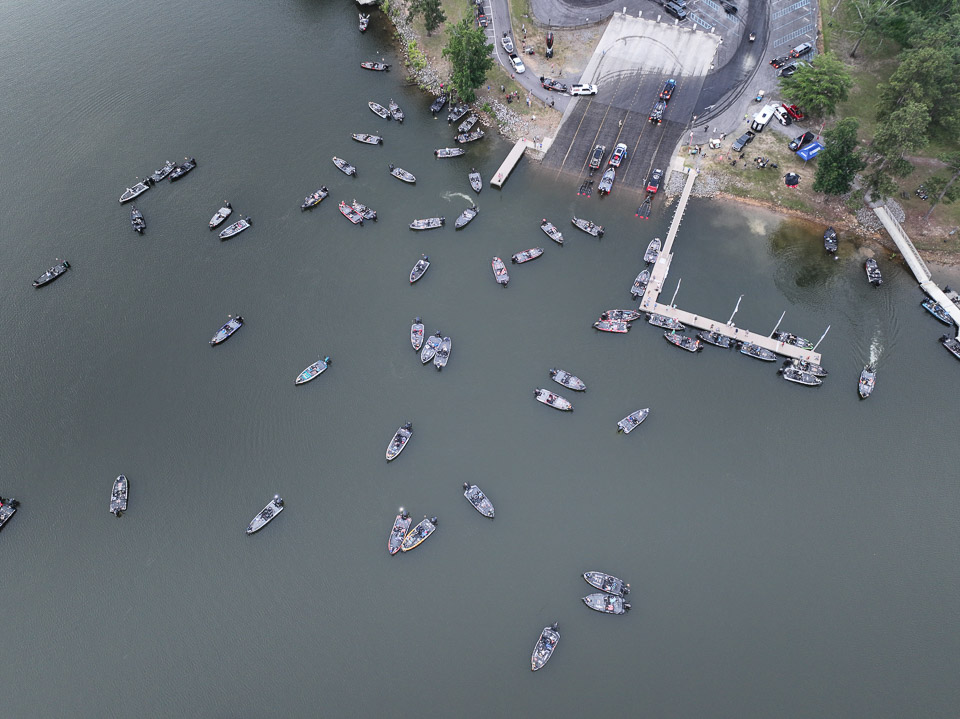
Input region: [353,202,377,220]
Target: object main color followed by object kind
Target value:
gray boat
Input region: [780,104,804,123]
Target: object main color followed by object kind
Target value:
red vehicle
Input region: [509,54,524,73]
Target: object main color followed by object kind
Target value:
white vehicle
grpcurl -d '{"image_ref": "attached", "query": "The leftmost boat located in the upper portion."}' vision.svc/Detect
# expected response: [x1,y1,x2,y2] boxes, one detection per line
[33,262,68,285]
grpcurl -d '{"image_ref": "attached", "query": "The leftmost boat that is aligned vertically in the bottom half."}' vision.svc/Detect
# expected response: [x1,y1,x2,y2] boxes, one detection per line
[109,474,128,516]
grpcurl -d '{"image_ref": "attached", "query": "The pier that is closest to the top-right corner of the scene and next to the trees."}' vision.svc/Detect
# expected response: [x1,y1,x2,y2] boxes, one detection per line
[874,202,960,343]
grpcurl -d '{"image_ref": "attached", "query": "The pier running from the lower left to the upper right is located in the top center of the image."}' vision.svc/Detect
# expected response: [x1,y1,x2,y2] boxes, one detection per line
[490,140,527,188]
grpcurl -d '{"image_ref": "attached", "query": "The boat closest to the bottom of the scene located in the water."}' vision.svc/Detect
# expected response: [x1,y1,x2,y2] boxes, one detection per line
[532,625,559,669]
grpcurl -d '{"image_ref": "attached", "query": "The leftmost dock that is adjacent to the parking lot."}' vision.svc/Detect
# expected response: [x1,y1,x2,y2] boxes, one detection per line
[638,183,821,366]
